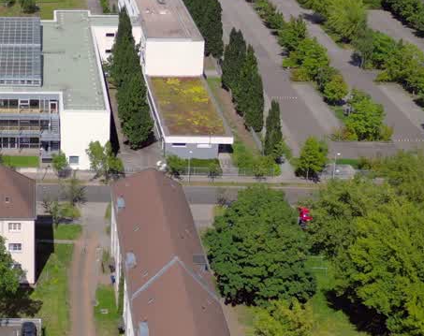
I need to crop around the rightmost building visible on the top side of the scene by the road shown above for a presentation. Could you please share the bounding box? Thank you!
[146,80,233,163]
